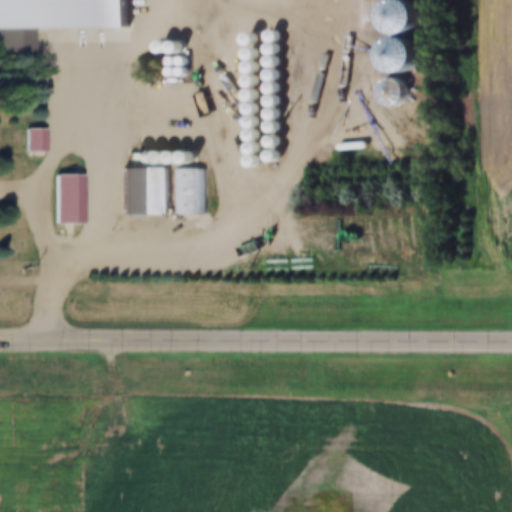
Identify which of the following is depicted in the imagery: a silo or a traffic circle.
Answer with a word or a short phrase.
silo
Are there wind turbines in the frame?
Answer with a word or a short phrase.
No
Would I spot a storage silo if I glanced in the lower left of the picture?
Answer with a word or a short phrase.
No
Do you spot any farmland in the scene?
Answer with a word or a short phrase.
Yes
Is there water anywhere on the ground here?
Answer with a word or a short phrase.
No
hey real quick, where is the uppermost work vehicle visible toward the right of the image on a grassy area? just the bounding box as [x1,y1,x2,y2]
[332,220,360,251]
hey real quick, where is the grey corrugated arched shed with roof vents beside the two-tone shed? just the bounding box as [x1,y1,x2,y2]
[175,168,207,214]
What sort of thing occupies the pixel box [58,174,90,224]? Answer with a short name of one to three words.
house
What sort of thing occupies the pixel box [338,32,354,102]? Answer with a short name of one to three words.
vehicle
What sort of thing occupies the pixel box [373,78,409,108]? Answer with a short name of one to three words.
silo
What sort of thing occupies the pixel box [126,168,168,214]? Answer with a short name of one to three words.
shed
